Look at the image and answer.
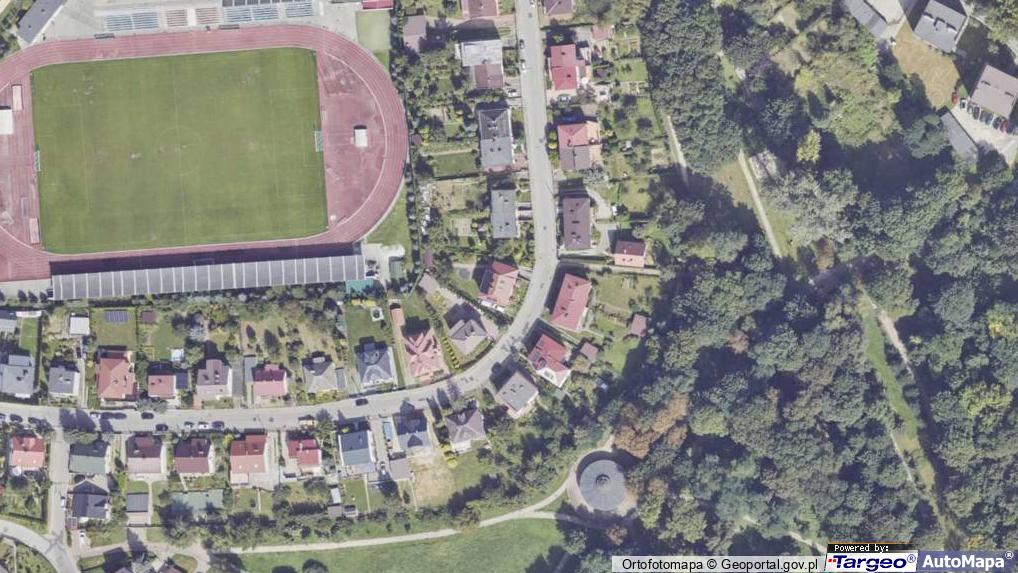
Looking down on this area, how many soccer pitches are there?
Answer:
one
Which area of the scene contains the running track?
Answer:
top left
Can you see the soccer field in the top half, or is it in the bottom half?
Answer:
top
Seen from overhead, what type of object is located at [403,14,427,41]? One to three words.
building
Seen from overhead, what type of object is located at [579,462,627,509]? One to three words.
building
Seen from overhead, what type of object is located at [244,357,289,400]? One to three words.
house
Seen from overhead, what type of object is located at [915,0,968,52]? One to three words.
house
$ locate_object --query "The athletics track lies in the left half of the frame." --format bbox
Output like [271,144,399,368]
[0,24,412,282]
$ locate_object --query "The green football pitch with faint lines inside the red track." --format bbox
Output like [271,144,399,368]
[32,49,328,252]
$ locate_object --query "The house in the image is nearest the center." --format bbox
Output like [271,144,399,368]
[482,261,522,305]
